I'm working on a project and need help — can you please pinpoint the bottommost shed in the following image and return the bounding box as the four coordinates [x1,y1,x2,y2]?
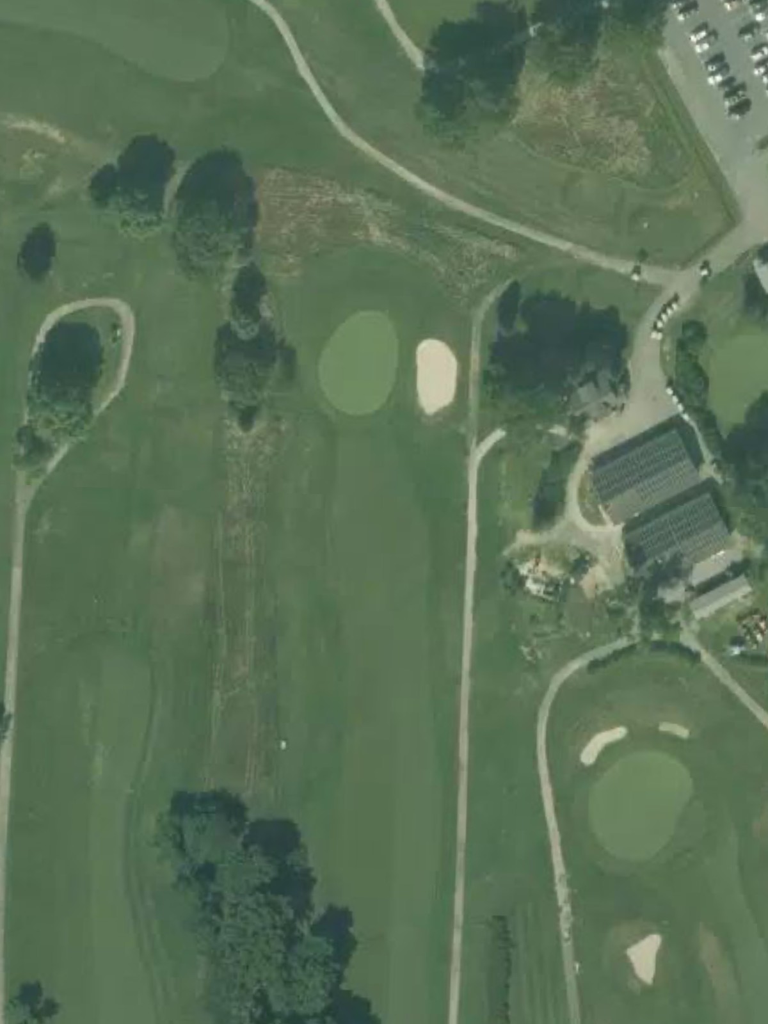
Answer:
[690,576,752,618]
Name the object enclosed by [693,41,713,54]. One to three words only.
vehicle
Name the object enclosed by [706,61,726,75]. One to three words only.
car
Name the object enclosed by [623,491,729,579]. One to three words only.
barn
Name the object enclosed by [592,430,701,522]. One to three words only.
barn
